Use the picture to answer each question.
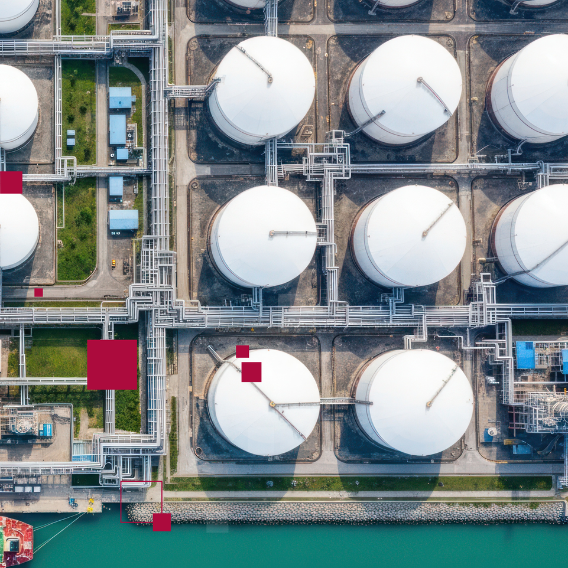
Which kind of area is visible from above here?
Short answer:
industrial area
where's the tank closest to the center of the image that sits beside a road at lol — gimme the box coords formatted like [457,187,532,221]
[199,183,318,298]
